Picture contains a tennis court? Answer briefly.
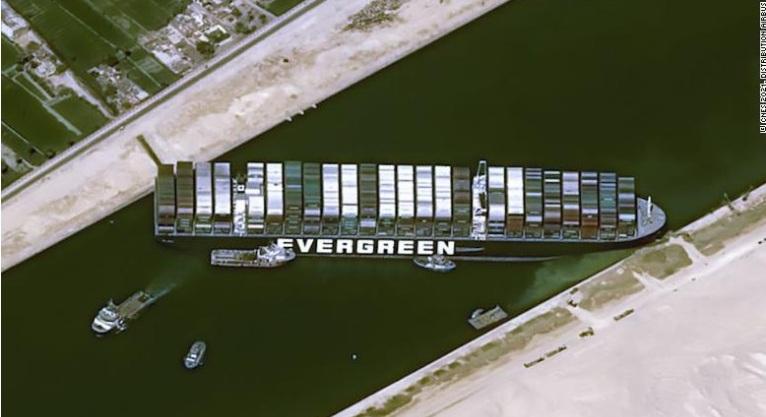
No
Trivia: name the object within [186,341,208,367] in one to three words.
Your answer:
boat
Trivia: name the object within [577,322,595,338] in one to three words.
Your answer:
work vehicle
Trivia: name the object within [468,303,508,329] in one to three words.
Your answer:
ship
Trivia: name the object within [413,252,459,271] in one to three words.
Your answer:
boat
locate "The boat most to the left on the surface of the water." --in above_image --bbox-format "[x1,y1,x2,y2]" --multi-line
[94,288,153,329]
